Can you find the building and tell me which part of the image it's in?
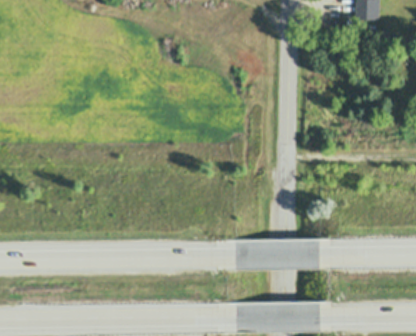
top right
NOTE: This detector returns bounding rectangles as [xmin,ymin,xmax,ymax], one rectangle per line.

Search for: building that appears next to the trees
[356,0,380,20]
